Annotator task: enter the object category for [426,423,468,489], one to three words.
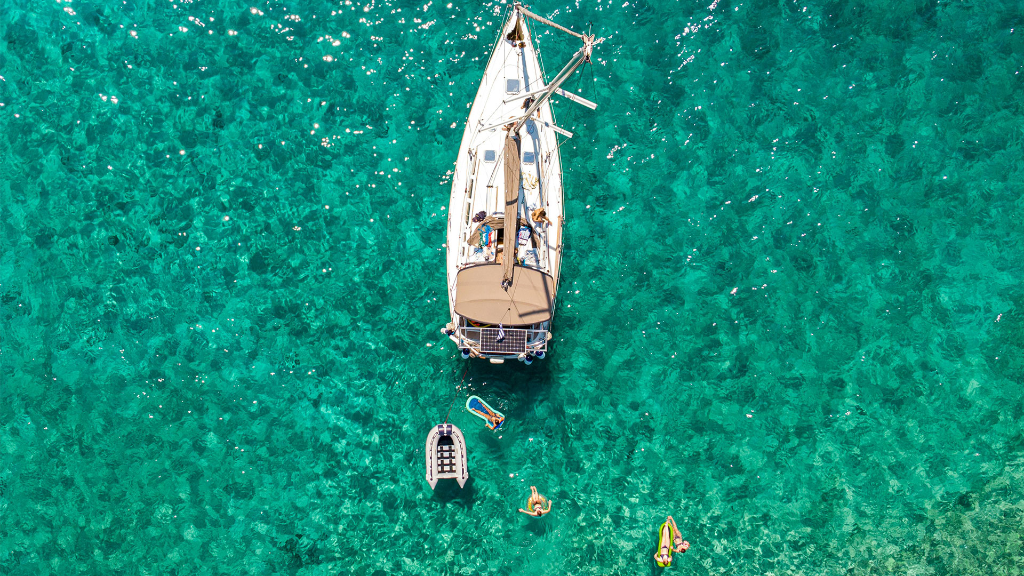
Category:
boat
